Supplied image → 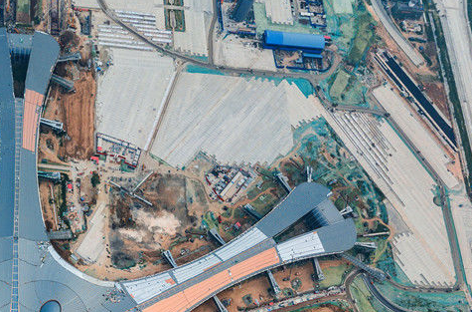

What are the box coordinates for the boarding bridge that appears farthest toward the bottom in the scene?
[213,291,230,312]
